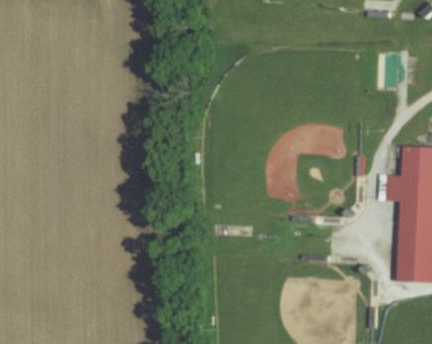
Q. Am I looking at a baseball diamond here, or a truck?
baseball diamond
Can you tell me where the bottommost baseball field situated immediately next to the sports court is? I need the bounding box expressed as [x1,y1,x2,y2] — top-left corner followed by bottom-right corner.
[202,47,366,220]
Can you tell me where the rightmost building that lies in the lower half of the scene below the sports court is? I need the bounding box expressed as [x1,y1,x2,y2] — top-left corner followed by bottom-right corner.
[378,147,432,282]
